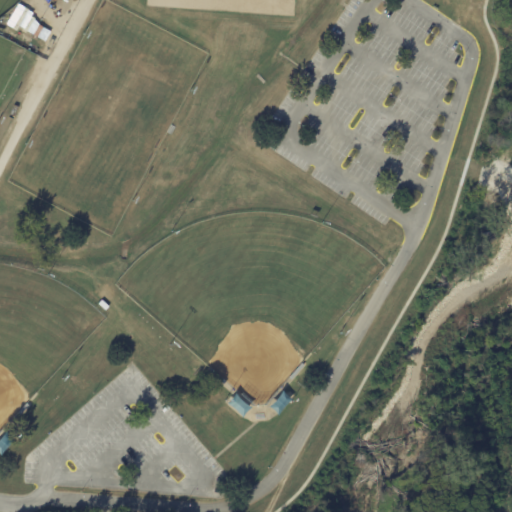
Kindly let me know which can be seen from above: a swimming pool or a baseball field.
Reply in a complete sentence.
It is a baseball field that can be seen here.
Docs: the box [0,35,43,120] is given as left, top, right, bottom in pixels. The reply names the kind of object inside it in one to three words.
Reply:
sports field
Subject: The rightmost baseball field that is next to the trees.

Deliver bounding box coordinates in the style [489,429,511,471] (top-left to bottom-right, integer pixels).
[117,212,386,406]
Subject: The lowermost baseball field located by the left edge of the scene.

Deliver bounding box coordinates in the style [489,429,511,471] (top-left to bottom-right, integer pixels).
[0,264,106,428]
